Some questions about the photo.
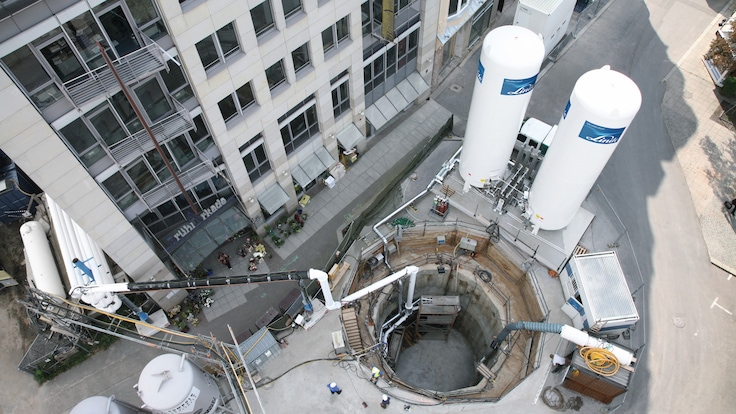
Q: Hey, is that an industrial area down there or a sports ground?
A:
industrial area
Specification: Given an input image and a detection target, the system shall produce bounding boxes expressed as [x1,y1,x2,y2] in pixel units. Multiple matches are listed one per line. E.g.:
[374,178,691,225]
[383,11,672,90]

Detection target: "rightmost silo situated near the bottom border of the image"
[134,350,219,414]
